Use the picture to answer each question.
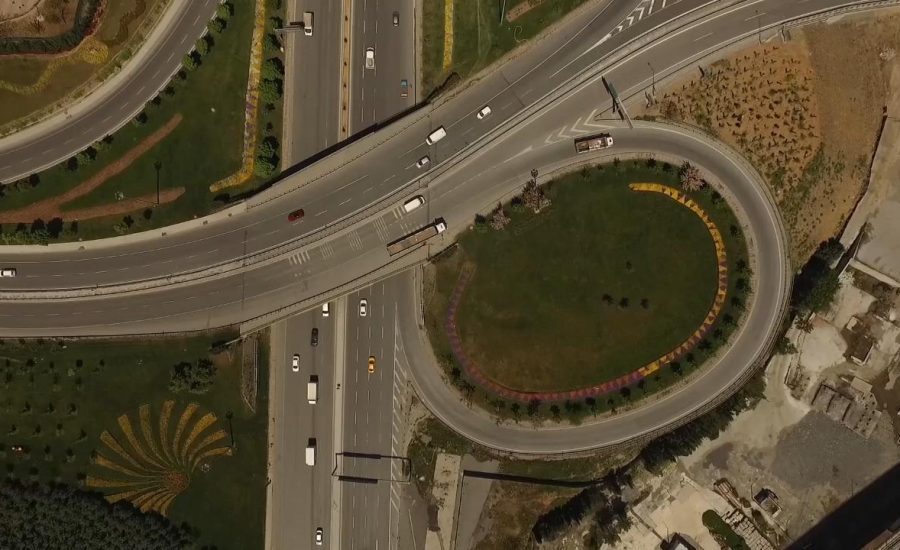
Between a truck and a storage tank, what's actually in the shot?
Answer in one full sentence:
Of the two, only a truck appears.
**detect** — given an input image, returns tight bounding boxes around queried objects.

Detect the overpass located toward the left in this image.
[243,99,432,334]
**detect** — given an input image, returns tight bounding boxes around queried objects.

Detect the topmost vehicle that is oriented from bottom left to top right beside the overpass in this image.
[426,125,447,143]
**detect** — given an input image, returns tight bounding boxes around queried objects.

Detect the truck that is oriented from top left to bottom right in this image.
[757,490,782,517]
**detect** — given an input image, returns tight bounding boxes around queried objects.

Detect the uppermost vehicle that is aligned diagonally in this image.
[475,105,492,119]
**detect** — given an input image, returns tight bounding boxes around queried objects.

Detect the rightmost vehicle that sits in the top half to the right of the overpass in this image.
[575,134,614,152]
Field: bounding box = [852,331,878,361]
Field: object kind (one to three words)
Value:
shed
